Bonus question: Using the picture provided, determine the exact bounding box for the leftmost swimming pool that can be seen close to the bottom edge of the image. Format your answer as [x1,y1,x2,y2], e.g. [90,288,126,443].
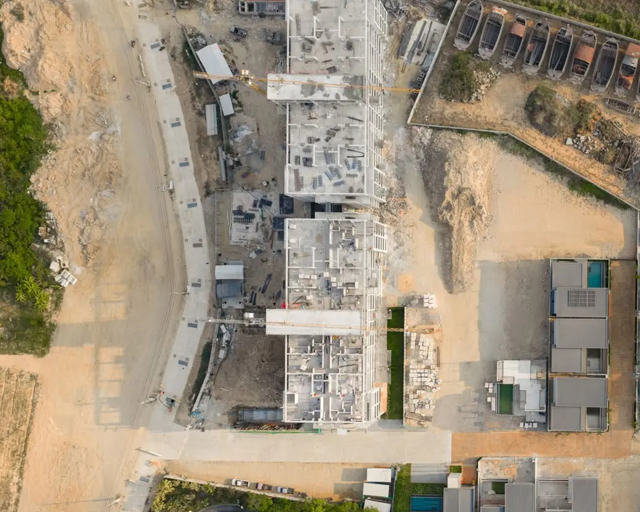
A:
[410,497,441,512]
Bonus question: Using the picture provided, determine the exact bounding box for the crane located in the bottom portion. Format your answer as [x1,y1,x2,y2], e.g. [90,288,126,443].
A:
[208,310,439,333]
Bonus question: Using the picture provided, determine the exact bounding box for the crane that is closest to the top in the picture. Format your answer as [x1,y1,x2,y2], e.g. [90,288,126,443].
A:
[195,68,420,108]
